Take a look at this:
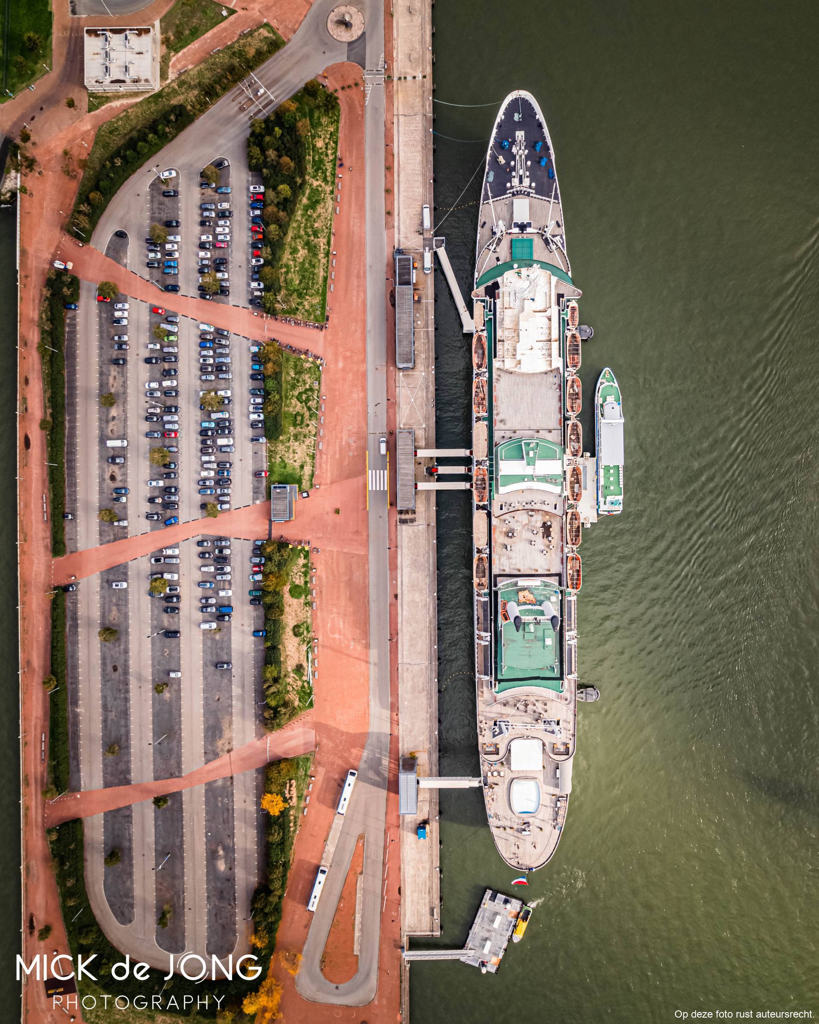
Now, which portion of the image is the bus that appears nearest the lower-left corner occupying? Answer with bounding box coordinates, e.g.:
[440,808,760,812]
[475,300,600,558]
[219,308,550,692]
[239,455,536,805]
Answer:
[308,863,328,911]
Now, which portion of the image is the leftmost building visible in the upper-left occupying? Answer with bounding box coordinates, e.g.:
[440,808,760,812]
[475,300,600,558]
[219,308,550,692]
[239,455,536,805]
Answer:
[84,27,156,92]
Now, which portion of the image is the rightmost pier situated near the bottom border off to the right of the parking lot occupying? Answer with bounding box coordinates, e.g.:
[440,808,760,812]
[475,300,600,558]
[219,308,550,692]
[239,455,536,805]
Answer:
[459,888,525,974]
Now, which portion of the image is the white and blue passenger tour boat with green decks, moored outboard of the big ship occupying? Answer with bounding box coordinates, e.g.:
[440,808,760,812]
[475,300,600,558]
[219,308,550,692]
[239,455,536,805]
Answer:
[594,367,625,517]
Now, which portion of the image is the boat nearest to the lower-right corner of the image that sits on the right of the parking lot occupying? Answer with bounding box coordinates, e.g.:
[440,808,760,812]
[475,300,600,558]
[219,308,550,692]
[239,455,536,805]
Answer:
[515,905,532,941]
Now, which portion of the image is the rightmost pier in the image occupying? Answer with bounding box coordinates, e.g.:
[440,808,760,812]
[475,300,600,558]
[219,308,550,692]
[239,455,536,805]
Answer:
[577,453,597,531]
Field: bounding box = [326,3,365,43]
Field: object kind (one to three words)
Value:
roundabout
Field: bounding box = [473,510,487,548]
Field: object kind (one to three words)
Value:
boat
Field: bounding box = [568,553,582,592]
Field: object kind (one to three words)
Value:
boat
